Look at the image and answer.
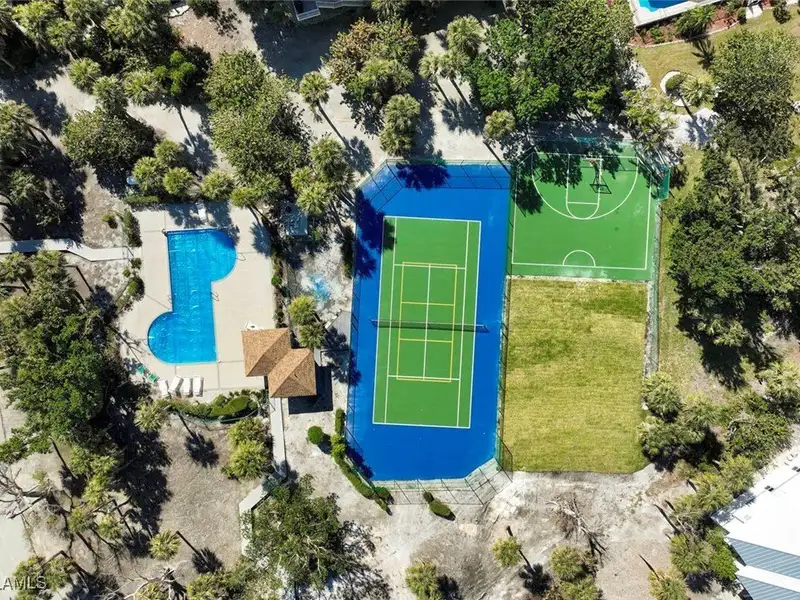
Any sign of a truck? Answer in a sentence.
No, no truck is visible in the view.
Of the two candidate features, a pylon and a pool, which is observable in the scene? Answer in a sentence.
I can see a pool in this picture.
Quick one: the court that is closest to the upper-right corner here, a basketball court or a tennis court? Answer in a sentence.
Specifically, the court that is closest to the upper-right corner is a basketball court.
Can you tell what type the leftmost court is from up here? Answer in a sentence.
The leftmost court appears to be a tennis court.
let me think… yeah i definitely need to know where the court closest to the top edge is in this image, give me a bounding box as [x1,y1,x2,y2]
[509,145,660,281]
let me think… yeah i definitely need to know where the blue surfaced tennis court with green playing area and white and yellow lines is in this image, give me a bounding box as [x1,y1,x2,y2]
[345,164,511,480]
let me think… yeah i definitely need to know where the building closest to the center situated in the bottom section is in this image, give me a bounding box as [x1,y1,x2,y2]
[242,328,319,398]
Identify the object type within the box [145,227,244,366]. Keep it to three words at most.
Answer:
swimming pool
